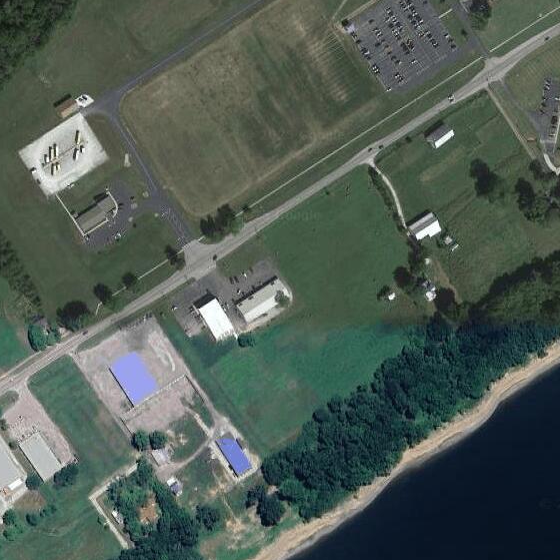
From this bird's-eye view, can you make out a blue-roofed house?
Yes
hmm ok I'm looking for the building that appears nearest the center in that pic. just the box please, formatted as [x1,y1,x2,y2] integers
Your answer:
[237,279,284,323]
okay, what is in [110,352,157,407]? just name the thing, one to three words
building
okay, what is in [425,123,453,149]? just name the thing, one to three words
house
